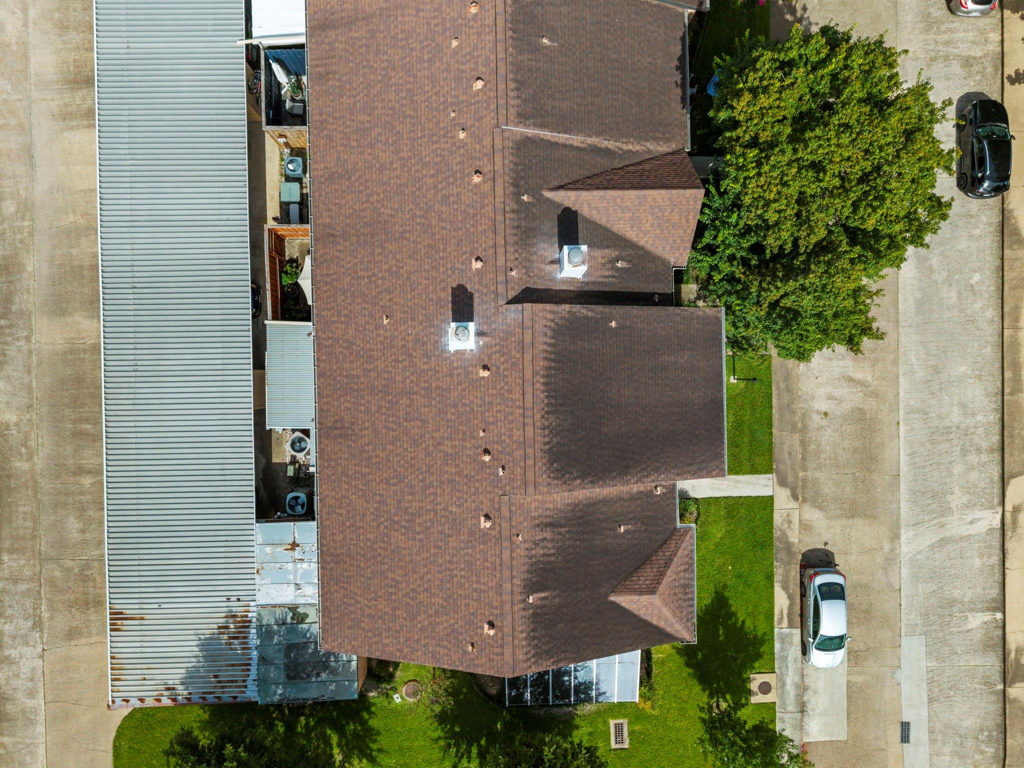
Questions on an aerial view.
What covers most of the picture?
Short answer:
buildings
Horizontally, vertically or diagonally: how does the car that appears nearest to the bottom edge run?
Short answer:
vertically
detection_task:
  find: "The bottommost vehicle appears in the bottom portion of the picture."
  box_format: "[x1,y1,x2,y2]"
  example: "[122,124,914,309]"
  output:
[800,565,852,667]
